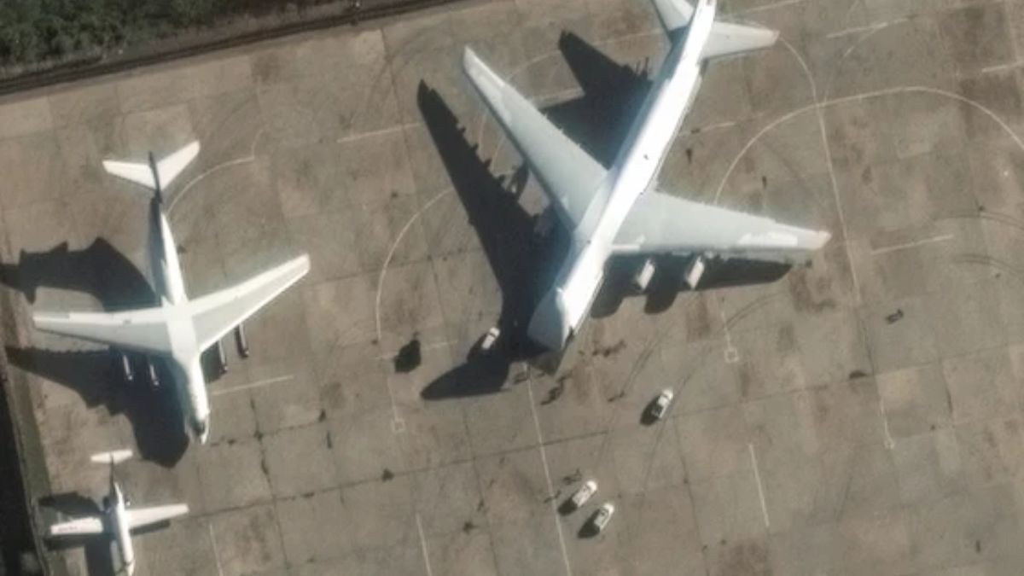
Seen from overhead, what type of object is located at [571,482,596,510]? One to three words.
car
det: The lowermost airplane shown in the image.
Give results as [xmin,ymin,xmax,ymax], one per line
[47,453,186,576]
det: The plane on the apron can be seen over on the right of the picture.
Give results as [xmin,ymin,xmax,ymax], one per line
[465,0,830,374]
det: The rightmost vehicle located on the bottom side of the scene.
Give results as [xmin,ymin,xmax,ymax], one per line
[650,390,674,418]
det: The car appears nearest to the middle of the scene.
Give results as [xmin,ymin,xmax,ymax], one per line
[479,327,499,350]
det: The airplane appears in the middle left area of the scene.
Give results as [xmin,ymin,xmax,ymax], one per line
[32,141,310,444]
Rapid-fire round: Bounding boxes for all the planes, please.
[32,141,310,444]
[465,0,830,374]
[47,453,186,576]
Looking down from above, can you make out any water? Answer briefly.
No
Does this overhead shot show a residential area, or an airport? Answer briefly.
airport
